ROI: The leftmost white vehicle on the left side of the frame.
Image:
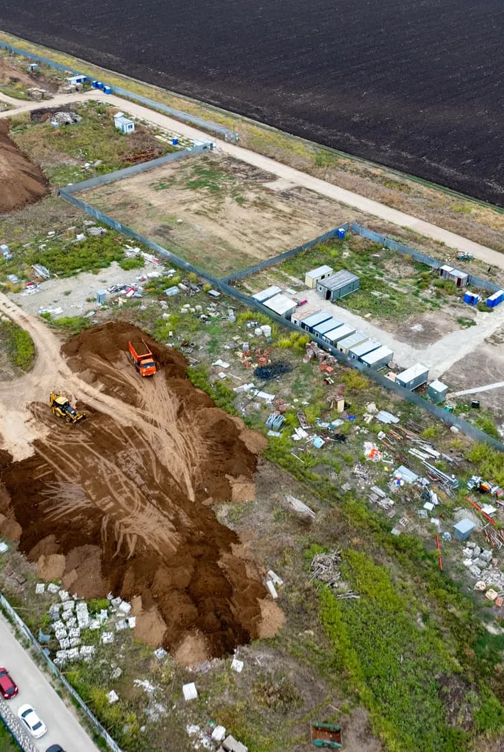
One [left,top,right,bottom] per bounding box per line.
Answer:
[17,704,48,741]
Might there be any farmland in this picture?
Yes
